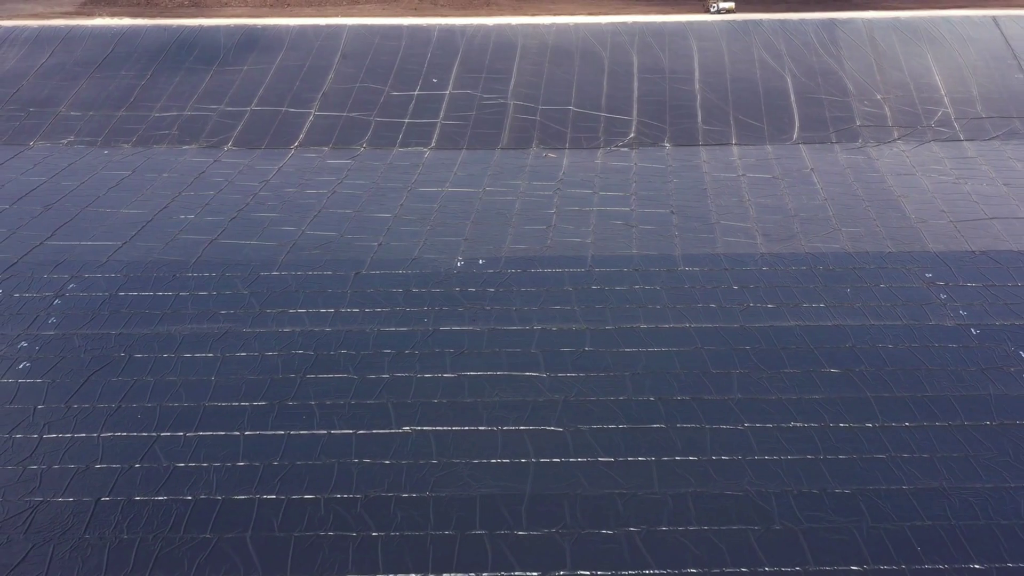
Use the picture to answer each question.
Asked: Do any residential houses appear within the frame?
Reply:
No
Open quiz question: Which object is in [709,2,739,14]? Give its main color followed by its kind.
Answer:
white vehicle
